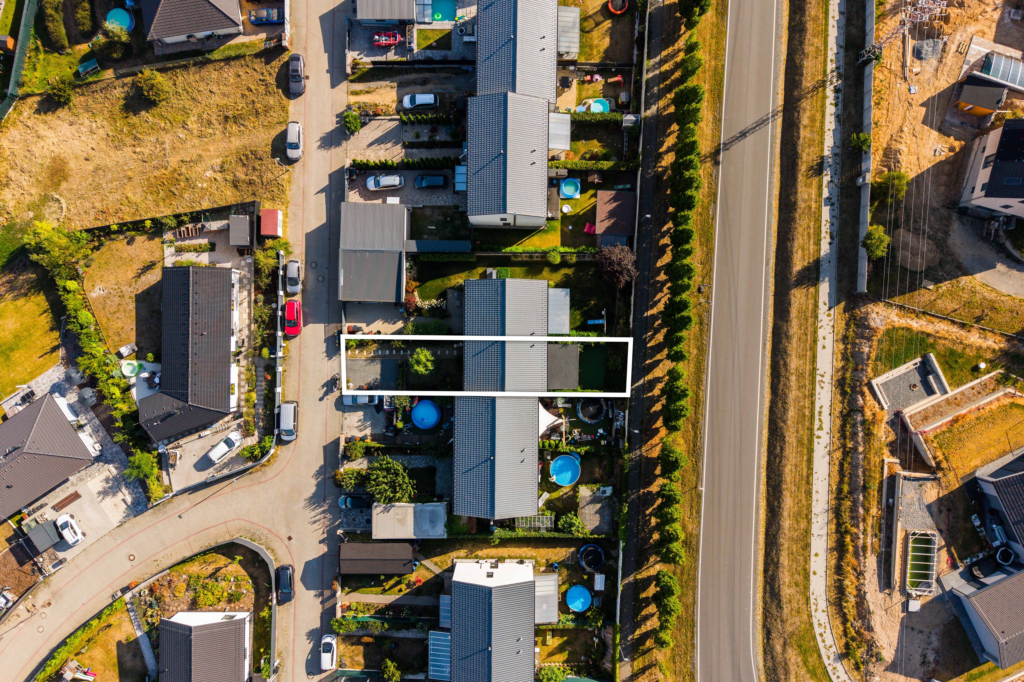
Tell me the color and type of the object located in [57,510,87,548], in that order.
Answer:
white car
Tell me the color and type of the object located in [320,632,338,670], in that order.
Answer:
white car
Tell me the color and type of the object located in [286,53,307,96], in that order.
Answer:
gray car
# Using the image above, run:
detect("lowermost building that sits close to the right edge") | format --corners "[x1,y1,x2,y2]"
[950,554,1024,670]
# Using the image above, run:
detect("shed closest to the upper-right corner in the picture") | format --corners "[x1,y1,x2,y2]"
[949,75,1005,115]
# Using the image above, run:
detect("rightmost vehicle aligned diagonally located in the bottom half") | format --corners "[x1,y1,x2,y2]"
[208,430,245,464]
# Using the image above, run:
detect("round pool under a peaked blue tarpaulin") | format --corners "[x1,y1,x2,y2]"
[565,583,592,611]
